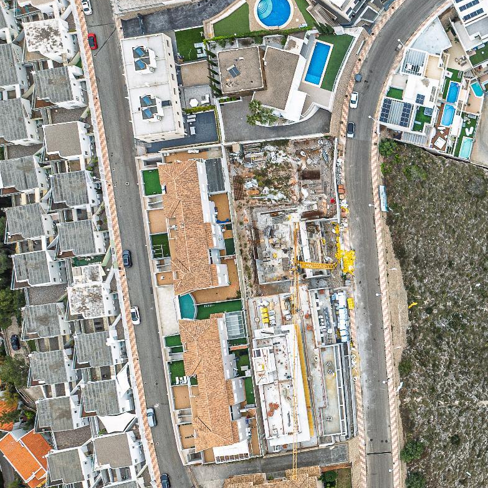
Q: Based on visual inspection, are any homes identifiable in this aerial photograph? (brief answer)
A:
Yes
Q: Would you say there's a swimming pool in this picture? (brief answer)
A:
Yes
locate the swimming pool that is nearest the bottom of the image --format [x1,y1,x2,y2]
[179,293,196,321]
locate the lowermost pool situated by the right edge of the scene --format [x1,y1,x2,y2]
[459,137,474,158]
